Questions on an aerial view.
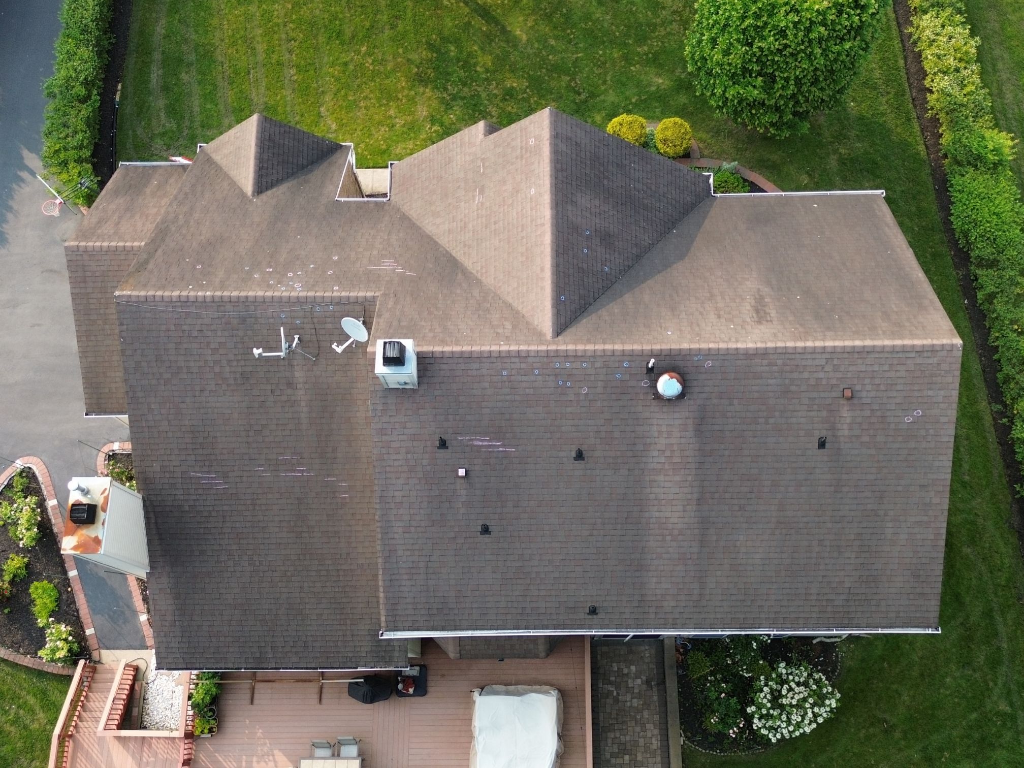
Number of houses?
1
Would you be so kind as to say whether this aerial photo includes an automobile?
No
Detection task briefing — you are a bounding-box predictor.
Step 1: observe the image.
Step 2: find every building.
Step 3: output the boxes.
[62,108,962,673]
